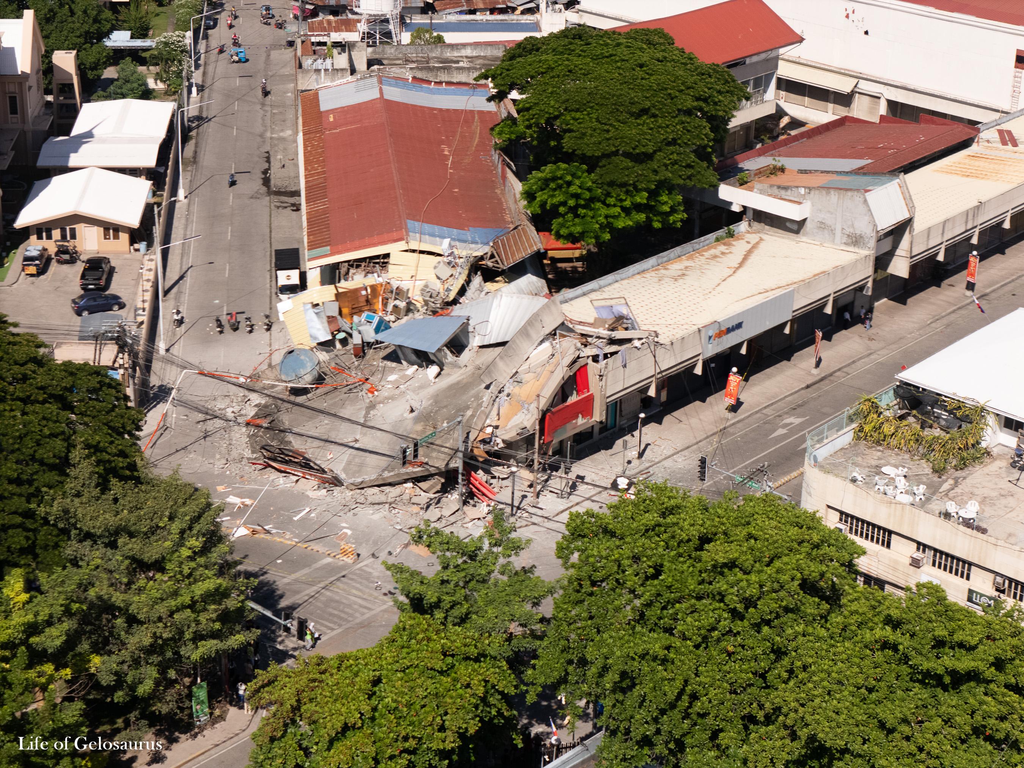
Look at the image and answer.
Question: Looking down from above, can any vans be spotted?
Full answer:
Yes, there is a van in the image.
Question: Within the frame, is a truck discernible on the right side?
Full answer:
No, there's no truck to be seen on the right side.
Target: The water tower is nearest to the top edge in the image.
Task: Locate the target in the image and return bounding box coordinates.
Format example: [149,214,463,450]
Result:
[349,0,410,47]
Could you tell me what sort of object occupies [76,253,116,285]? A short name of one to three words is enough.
truck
